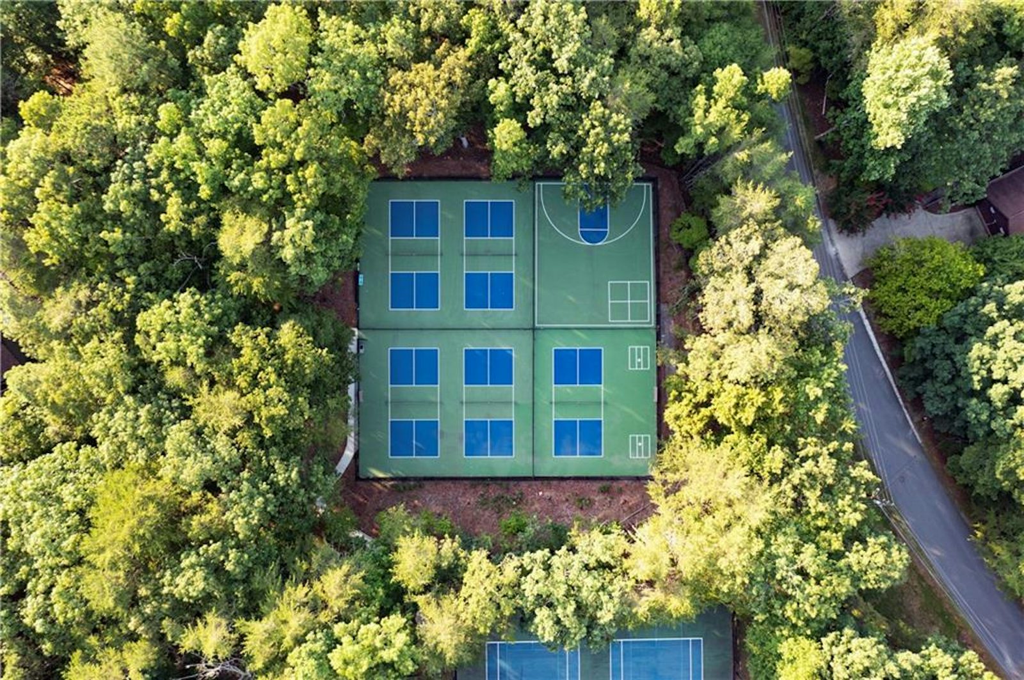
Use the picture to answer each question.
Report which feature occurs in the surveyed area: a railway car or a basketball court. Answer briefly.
basketball court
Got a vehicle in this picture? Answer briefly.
No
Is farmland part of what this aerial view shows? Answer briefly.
No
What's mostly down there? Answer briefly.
trees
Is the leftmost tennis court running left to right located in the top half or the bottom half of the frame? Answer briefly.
bottom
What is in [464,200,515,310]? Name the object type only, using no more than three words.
sports court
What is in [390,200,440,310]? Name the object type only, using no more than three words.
sports court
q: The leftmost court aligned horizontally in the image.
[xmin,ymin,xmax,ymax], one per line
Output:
[487,642,580,680]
